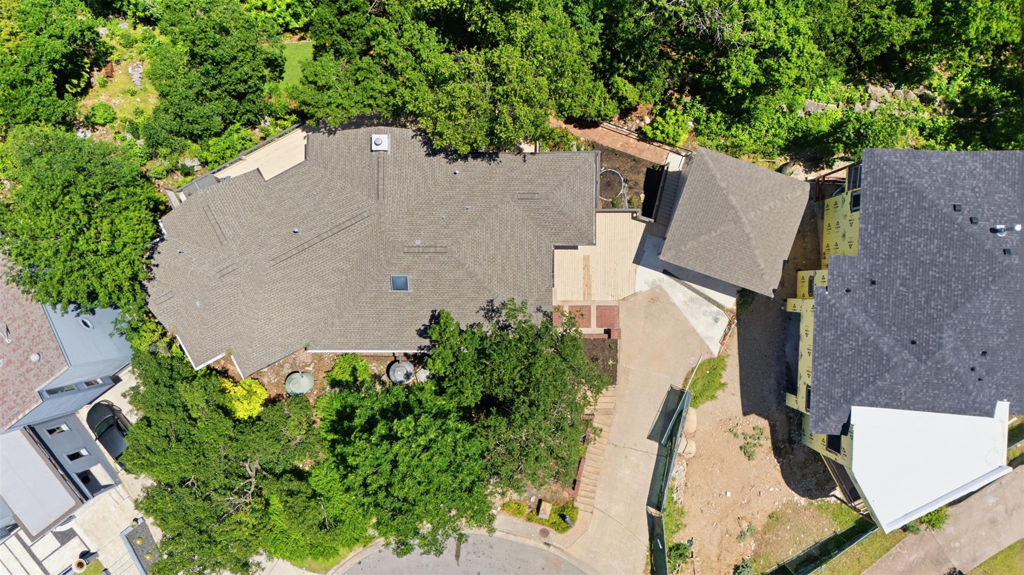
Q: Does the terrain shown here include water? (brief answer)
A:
No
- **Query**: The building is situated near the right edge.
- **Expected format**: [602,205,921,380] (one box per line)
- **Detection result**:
[787,147,1024,536]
